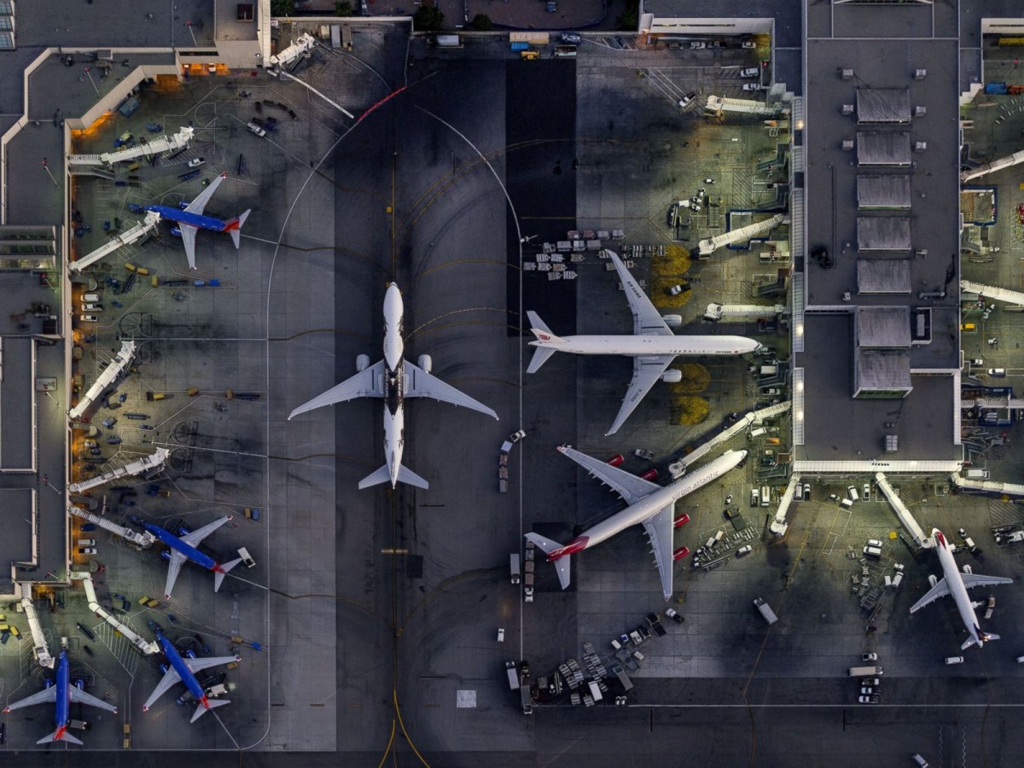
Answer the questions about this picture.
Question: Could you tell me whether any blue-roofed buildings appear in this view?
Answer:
No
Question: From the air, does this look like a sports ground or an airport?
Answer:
airport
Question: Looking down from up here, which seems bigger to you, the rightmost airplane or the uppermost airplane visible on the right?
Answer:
the uppermost airplane visible on the right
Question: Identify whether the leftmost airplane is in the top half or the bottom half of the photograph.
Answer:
bottom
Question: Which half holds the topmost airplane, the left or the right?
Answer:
left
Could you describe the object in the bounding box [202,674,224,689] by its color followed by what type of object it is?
black work vehicle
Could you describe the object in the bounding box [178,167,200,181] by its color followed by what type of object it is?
black work vehicle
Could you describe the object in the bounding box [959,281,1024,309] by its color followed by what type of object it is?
white jet bridge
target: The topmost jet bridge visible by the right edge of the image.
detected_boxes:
[959,150,1024,188]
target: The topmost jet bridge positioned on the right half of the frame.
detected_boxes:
[699,97,789,129]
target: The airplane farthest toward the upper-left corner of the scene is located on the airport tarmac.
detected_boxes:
[147,170,251,269]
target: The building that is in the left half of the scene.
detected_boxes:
[0,0,273,598]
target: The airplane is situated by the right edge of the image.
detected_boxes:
[911,528,1014,649]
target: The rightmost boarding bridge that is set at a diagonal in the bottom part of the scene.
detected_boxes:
[870,473,936,550]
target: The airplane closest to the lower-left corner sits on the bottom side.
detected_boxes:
[0,651,116,745]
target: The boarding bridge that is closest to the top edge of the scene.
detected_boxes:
[272,31,319,80]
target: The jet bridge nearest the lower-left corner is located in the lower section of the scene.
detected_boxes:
[21,583,59,670]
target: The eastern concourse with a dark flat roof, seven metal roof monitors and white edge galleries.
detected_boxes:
[636,0,1024,473]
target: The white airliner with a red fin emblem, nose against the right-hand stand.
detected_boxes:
[527,250,760,436]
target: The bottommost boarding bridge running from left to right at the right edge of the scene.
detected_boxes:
[943,473,1024,497]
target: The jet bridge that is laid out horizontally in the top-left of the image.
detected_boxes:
[69,126,201,173]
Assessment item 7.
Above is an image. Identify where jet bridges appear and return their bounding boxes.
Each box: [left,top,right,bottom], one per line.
[699,304,789,329]
[69,443,177,496]
[870,473,936,550]
[69,571,167,655]
[69,503,162,549]
[272,31,319,80]
[959,281,1024,309]
[69,126,201,173]
[69,204,168,279]
[21,583,59,670]
[69,335,139,423]
[770,473,804,541]
[699,97,789,129]
[959,150,1024,188]
[664,399,789,483]
[693,212,789,262]
[962,398,1024,412]
[943,473,1024,497]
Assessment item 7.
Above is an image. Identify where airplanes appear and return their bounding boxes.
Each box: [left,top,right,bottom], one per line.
[0,651,116,745]
[145,514,241,599]
[143,633,242,723]
[147,170,251,269]
[288,284,498,490]
[525,446,746,603]
[911,528,1014,649]
[527,250,760,436]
